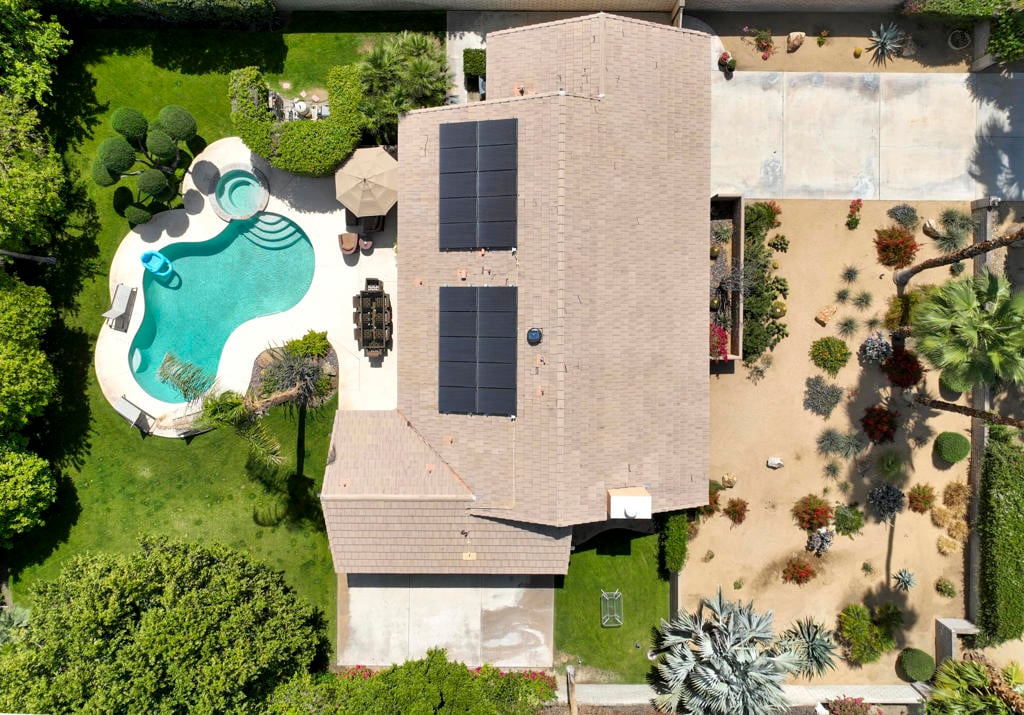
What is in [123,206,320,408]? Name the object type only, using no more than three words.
swimming pool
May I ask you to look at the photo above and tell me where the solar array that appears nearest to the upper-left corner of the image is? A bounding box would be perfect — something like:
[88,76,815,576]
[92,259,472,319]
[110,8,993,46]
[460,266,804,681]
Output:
[437,116,516,254]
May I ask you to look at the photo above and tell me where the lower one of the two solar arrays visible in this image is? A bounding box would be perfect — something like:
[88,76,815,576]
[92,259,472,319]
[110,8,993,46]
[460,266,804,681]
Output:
[437,285,516,418]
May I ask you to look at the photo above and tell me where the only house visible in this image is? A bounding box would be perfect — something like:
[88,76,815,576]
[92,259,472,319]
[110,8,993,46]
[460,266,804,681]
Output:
[320,12,713,574]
